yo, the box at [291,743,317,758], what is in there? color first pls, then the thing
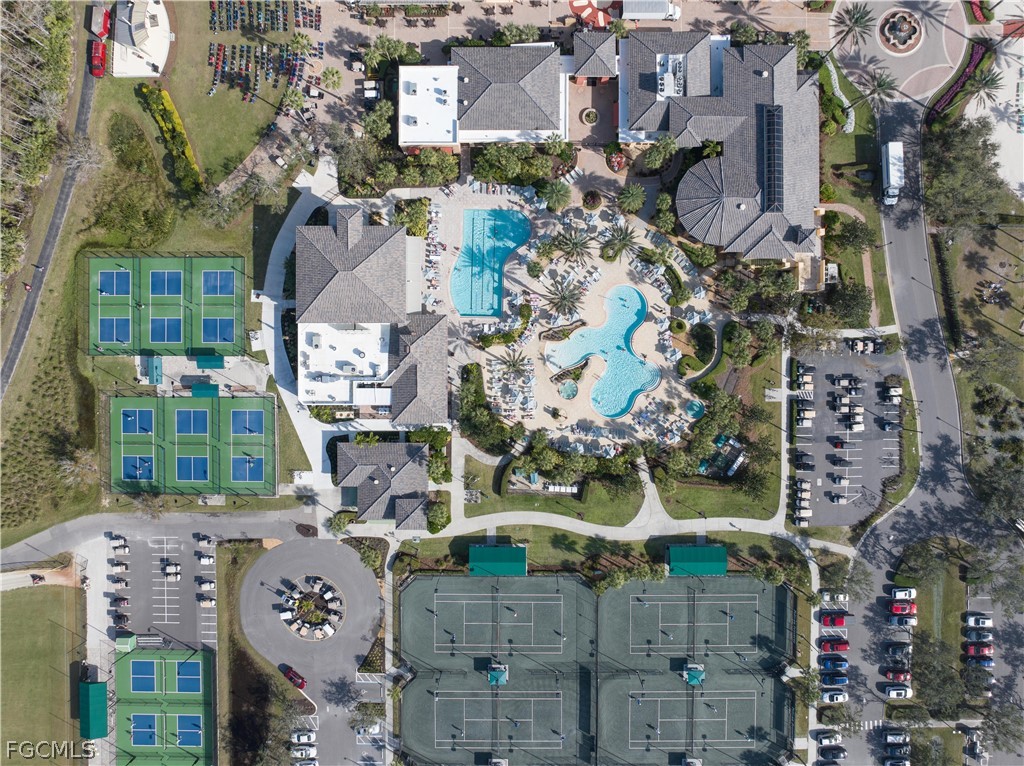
white car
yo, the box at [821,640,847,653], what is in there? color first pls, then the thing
red vehicle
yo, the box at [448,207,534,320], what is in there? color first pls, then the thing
blue swimming pool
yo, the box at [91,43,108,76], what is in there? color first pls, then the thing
red vehicle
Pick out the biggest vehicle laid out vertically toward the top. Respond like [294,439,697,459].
[880,144,904,205]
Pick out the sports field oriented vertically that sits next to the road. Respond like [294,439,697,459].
[0,585,66,766]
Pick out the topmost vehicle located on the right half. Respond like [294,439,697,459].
[621,0,678,23]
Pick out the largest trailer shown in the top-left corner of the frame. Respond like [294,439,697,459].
[89,3,112,44]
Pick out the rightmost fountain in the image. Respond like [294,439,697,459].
[876,6,927,56]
